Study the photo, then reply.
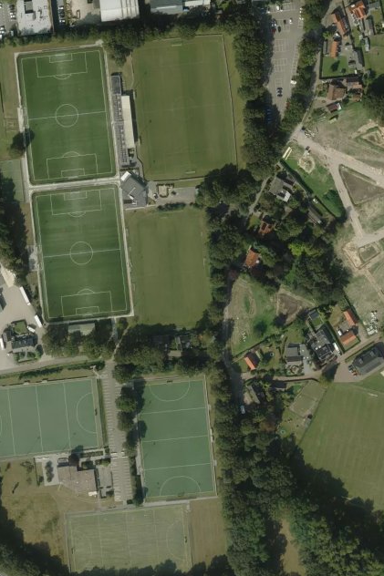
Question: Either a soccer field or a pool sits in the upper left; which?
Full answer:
You can see a soccer field in the upper left.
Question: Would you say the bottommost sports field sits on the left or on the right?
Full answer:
The bottommost sports field sits on the left side.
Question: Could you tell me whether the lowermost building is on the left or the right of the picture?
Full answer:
The lowermost building sits on the left side.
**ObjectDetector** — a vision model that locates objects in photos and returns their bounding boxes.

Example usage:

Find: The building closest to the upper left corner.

[17,0,52,35]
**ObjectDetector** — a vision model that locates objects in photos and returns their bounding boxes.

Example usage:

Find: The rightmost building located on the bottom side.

[352,347,384,376]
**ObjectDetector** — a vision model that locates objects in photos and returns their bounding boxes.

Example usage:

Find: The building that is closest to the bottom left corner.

[58,466,96,495]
